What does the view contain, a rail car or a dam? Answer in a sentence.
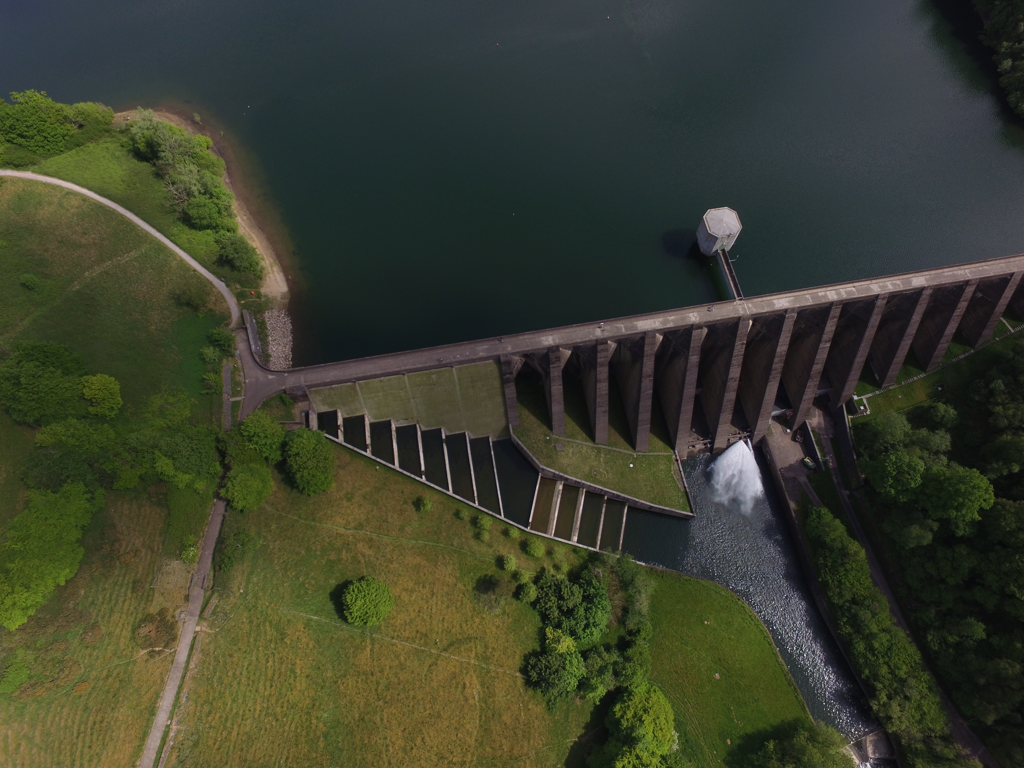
The image shows a dam.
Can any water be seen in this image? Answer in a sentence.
Yes, there is water in the image.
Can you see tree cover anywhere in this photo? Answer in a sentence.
Yes, there's tree cover in this view.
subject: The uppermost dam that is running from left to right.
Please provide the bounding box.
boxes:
[270,254,1024,463]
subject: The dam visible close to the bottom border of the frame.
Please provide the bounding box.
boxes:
[844,729,894,768]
